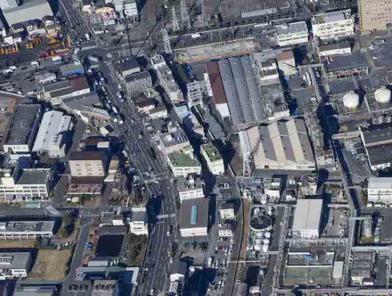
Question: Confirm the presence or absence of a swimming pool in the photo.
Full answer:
Yes, the frame does contain a swimming pool.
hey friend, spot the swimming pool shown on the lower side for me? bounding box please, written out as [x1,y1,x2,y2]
[94,232,126,257]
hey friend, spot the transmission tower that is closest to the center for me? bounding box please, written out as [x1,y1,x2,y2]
[234,131,254,180]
